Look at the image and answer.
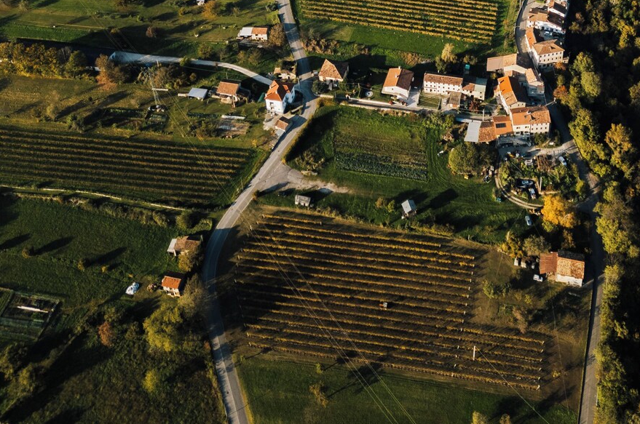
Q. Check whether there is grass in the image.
Yes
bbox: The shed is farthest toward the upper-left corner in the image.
[188,77,213,95]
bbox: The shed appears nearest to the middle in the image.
[293,186,315,206]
